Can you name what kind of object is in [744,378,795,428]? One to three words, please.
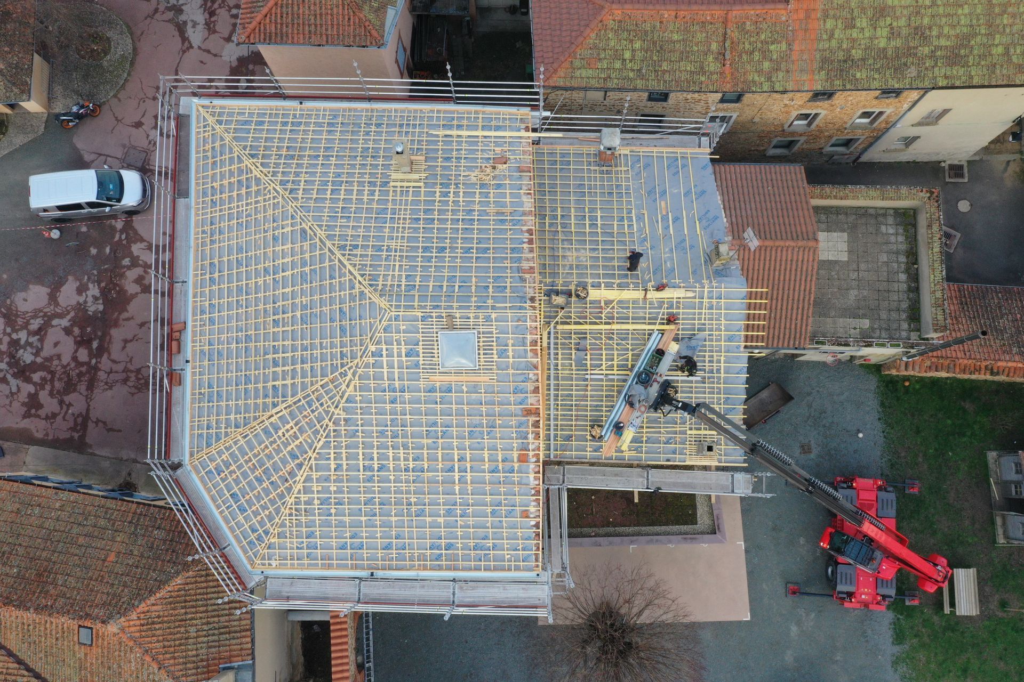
trailer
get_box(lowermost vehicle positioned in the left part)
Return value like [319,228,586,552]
[29,164,159,223]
